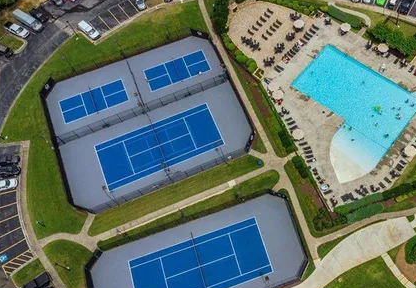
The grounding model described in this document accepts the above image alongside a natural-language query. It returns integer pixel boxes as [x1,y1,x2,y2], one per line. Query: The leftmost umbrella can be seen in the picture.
[270,90,285,102]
